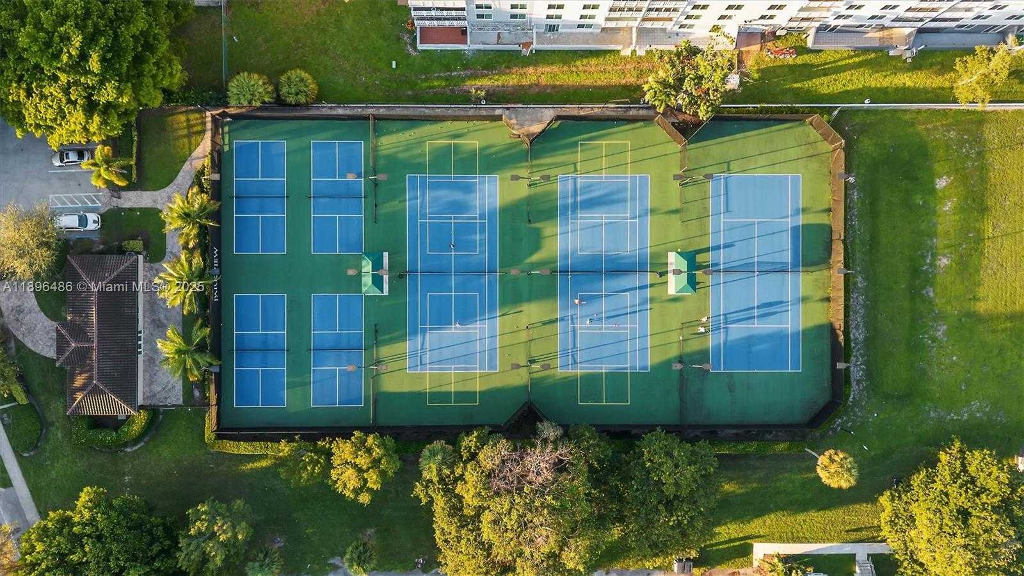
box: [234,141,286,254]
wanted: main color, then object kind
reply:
blue sports court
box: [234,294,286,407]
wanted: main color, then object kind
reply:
blue sports court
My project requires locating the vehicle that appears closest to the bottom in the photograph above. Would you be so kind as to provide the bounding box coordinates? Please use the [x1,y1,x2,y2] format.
[56,212,102,231]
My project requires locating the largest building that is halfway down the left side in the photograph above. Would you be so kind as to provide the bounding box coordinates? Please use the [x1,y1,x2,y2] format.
[55,254,146,421]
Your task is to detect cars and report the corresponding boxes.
[56,212,102,231]
[52,150,94,168]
